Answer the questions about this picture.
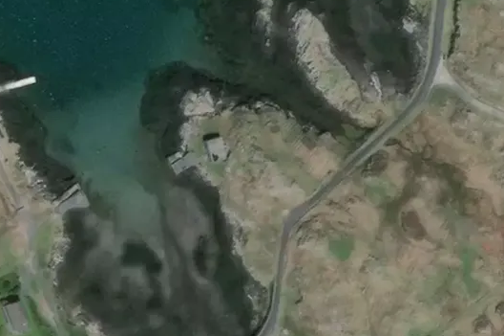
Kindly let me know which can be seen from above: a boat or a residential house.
residential house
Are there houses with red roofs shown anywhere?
No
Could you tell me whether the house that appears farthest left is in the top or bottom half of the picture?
bottom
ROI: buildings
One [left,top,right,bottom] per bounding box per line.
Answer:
[206,139,231,165]
[1,302,28,335]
